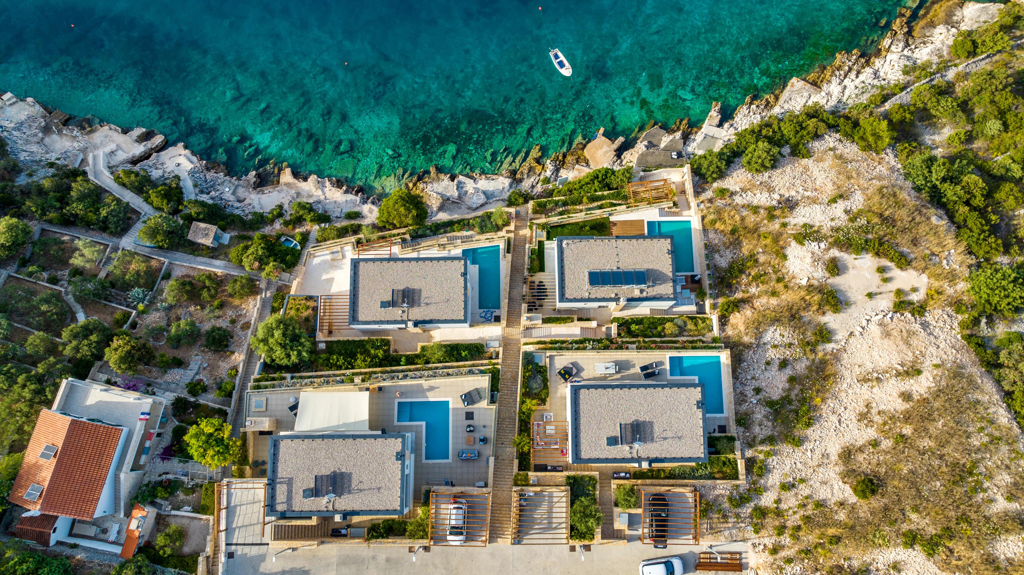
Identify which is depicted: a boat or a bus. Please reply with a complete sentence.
This aerial view contains a boat.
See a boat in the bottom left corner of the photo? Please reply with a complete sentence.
No, in the bottom left corner of the photo there is no boat.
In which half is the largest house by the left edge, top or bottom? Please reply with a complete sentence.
Seen from above, the largest house by the left edge lies in the bottom half of the view.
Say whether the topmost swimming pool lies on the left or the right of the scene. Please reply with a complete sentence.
It is on the right.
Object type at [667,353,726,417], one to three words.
swimming pool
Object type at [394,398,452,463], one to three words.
swimming pool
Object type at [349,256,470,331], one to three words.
house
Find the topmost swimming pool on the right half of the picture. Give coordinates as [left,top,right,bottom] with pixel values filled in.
[645,218,697,275]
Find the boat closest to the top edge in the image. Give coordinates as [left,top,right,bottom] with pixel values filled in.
[550,41,574,76]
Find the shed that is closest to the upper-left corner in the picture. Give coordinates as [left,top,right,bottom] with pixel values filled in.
[187,222,225,249]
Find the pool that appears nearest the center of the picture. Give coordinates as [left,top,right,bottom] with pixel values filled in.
[459,242,503,312]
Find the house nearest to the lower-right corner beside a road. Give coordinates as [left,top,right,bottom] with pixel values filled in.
[563,380,708,468]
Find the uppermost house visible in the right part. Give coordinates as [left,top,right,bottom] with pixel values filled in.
[553,235,677,313]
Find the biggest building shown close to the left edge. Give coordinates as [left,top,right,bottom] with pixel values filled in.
[7,409,135,521]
